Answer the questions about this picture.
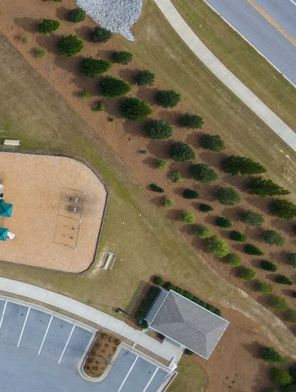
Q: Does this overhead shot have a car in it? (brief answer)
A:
No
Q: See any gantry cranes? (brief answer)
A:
No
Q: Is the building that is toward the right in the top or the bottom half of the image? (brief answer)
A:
bottom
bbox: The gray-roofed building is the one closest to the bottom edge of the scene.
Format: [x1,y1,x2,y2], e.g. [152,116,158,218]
[146,288,230,359]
